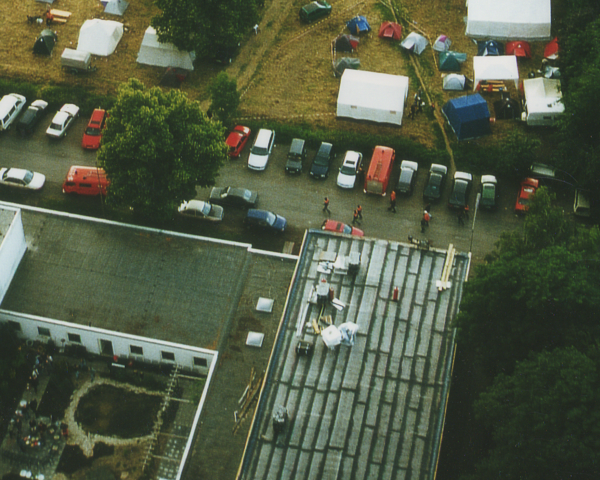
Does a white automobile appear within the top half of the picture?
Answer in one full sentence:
Yes, looking within the top half of the picture, one can make out a white automobile.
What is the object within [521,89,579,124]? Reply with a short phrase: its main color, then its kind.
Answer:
white camper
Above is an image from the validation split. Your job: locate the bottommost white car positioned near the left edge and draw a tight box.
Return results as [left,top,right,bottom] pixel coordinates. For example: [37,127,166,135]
[0,167,49,192]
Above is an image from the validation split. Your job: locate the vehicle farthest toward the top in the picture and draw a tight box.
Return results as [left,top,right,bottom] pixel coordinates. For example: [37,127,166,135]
[294,1,336,24]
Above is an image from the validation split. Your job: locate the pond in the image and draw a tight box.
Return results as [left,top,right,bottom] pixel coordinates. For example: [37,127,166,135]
[64,372,174,449]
